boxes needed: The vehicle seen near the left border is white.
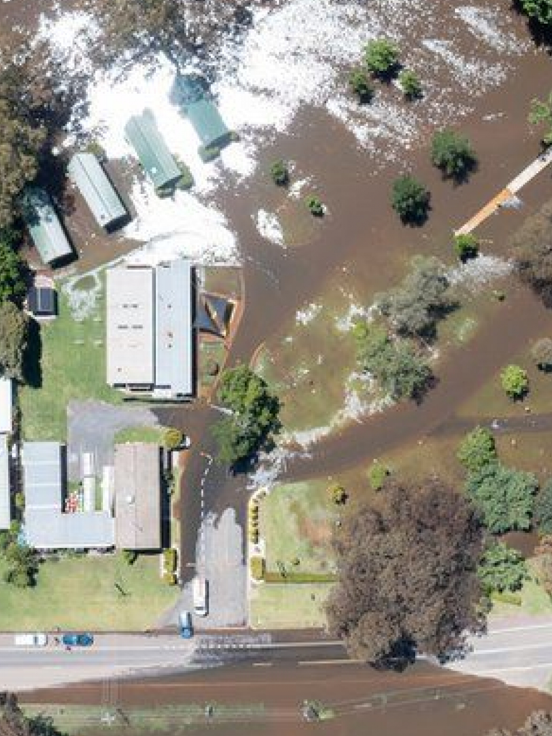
[13,633,48,646]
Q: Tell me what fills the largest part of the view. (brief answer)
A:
water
